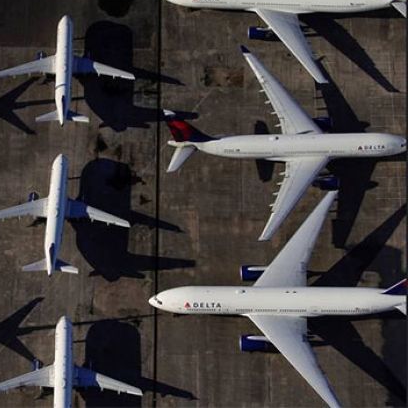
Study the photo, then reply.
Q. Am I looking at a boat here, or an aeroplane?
aeroplane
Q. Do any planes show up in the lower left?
Yes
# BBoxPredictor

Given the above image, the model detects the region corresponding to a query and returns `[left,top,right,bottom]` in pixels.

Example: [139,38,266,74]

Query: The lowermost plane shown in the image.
[0,318,139,408]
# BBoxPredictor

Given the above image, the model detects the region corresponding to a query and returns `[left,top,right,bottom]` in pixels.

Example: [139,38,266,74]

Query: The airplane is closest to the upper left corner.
[0,16,134,126]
